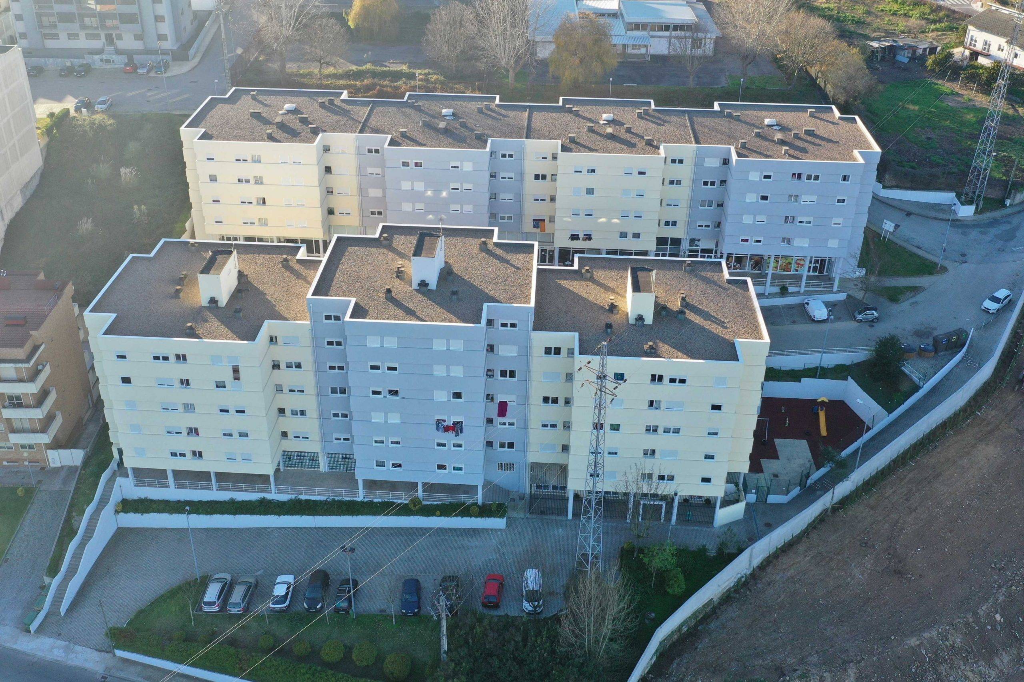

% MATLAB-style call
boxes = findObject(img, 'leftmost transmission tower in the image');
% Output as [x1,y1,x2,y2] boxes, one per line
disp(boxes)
[574,340,626,574]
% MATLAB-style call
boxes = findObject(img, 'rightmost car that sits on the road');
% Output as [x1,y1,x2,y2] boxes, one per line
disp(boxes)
[980,291,1015,310]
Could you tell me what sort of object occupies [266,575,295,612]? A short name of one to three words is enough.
car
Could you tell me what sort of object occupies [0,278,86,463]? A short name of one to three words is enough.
building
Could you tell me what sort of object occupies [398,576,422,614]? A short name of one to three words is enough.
car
